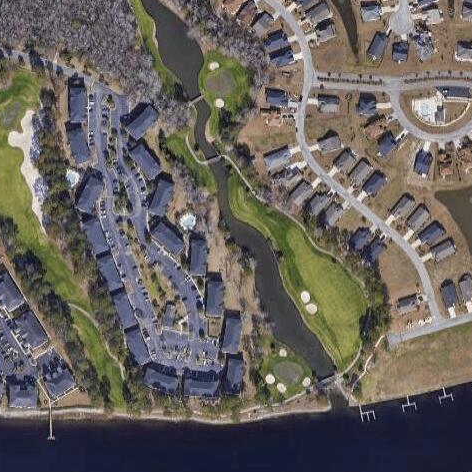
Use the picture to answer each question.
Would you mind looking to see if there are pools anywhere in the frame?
Yes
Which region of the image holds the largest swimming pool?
top right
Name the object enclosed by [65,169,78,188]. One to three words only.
swimming pool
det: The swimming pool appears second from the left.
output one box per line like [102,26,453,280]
[180,213,196,230]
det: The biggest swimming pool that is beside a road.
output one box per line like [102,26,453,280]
[411,99,438,126]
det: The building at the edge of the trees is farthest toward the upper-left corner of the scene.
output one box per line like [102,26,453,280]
[68,86,87,122]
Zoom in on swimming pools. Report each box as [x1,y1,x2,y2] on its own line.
[180,213,196,230]
[65,169,78,188]
[411,99,438,126]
